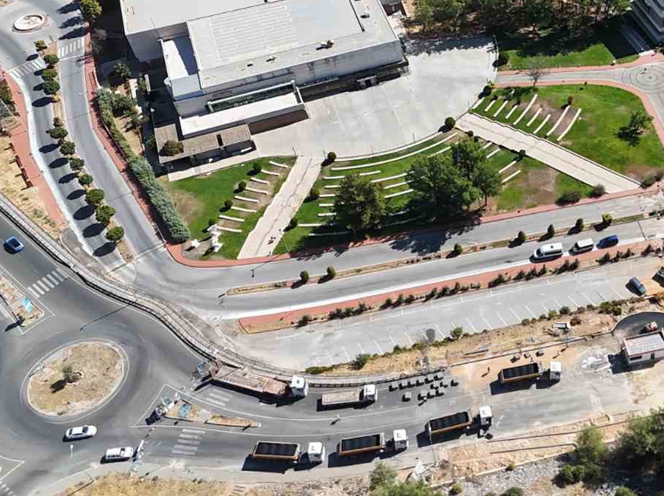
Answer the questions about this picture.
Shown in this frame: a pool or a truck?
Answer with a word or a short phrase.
truck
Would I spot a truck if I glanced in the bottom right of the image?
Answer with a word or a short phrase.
Yes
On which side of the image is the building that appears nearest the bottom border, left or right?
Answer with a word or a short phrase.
right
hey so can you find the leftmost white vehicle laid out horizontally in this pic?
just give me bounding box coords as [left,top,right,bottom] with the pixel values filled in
[63,424,99,441]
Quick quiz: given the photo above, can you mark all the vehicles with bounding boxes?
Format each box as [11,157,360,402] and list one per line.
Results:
[335,429,409,462]
[247,442,327,470]
[102,445,134,463]
[3,238,24,253]
[626,276,648,296]
[192,357,314,401]
[533,240,565,262]
[63,424,99,441]
[597,234,620,249]
[497,357,563,390]
[572,237,596,253]
[426,405,494,441]
[316,381,379,412]
[641,319,658,333]
[654,268,664,280]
